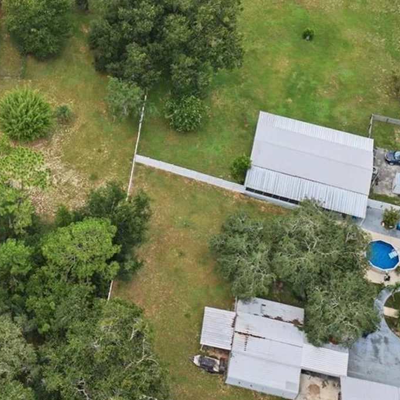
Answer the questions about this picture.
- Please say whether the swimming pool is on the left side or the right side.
right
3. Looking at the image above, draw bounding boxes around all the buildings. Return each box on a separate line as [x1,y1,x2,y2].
[334,377,400,400]
[231,301,304,400]
[245,112,377,238]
